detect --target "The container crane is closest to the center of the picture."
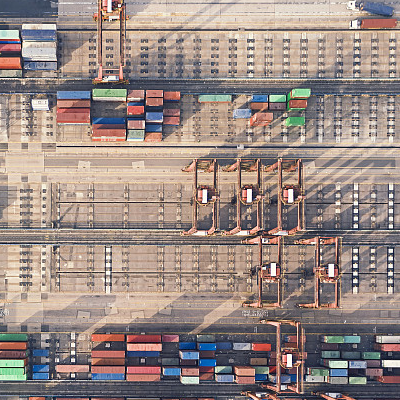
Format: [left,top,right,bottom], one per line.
[183,159,223,237]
